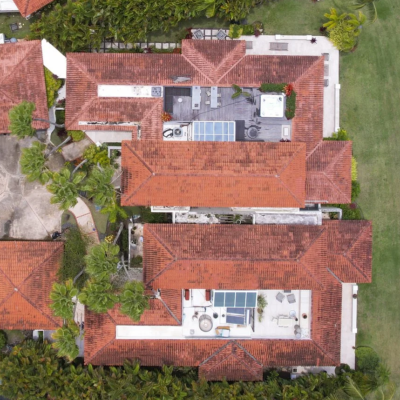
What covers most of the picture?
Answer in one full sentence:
What you mostly see from above here is buildings.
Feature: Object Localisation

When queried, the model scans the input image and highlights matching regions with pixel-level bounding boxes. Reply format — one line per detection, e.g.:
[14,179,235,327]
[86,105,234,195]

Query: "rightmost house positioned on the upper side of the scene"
[42,34,353,225]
